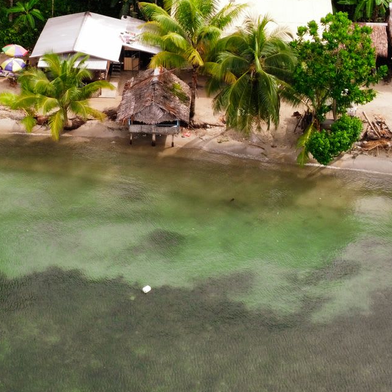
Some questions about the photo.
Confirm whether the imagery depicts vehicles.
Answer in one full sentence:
No, I find no vehicle anywhere in the image.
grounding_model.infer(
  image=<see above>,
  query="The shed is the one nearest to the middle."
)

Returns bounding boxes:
[115,66,195,147]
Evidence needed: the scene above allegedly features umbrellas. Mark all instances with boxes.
[0,58,27,73]
[1,45,28,58]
